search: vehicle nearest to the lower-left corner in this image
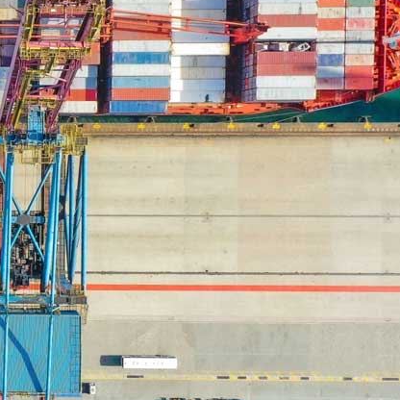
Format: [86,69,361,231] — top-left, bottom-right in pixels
[82,381,95,394]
